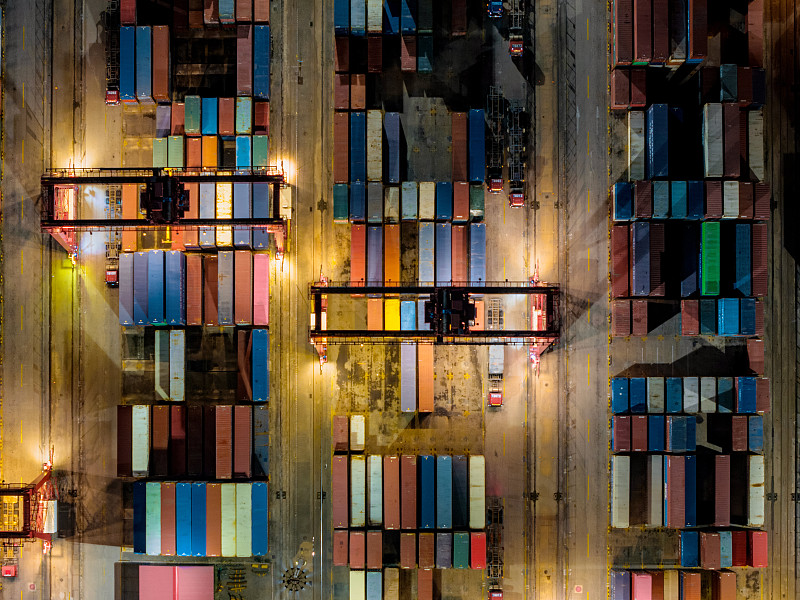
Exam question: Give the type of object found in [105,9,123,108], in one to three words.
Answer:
vehicle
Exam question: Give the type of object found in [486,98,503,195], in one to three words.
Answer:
vehicle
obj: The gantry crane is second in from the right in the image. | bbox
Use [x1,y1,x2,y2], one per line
[36,154,294,271]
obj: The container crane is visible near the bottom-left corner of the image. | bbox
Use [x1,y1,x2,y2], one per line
[0,445,61,562]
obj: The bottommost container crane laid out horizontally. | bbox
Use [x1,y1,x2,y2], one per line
[309,257,566,374]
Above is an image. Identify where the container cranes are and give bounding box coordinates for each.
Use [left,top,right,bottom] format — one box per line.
[309,257,566,374]
[0,445,61,562]
[36,154,294,271]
